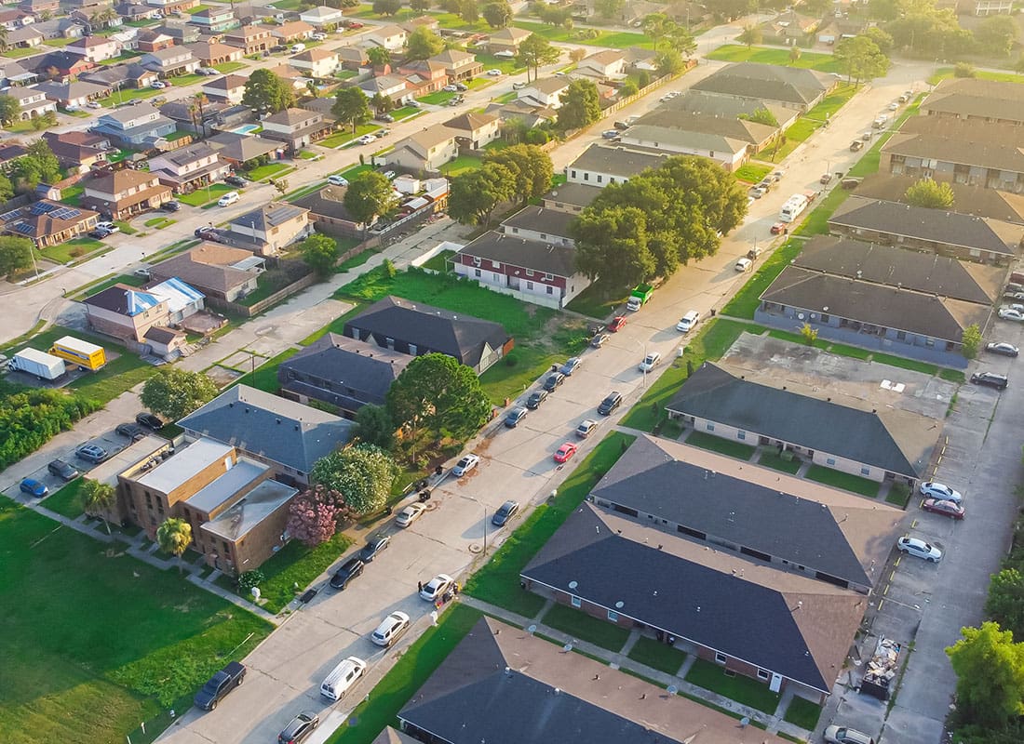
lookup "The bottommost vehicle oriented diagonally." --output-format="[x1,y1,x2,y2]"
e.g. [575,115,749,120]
[264,711,310,744]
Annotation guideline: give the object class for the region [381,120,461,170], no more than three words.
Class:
house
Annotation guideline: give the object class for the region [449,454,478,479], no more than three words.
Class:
car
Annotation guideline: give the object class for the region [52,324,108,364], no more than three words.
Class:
truck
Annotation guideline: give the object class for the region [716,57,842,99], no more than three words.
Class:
building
